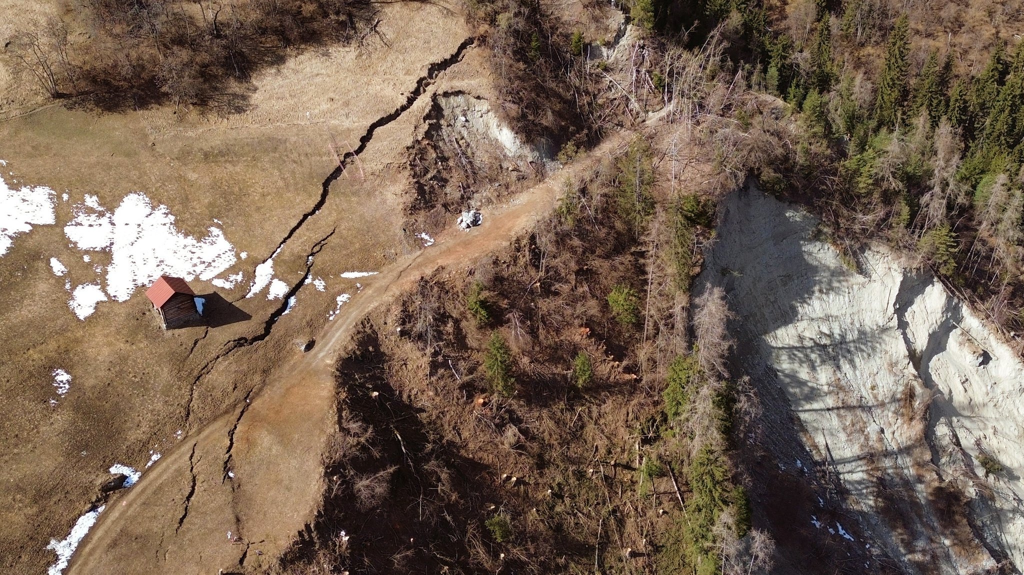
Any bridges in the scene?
No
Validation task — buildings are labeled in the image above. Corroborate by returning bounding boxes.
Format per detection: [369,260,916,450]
[145,275,198,333]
